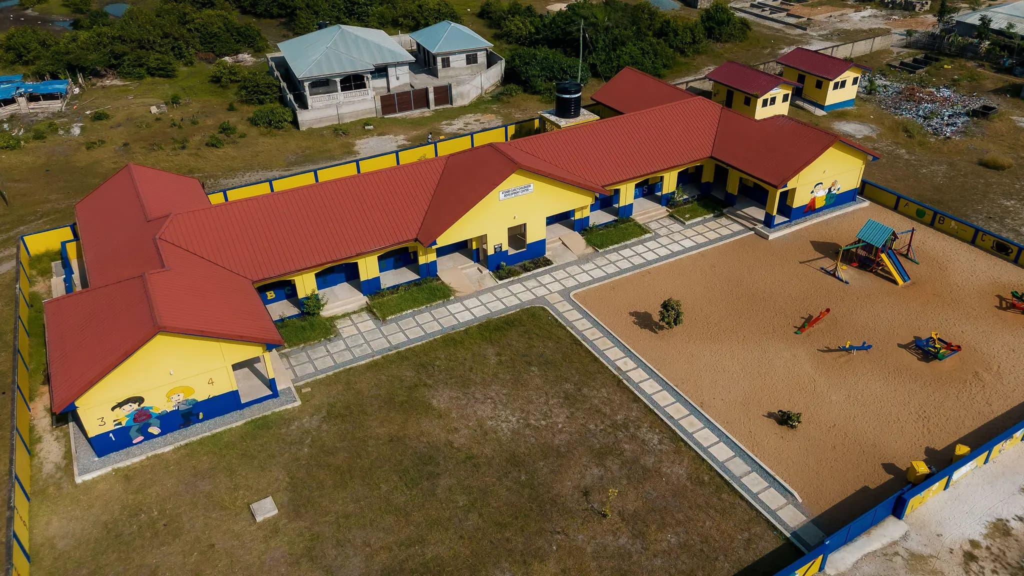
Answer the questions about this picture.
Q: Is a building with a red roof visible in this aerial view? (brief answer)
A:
Yes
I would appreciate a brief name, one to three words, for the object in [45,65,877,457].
building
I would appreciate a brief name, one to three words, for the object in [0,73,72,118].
shed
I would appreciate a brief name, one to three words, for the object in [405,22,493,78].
house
